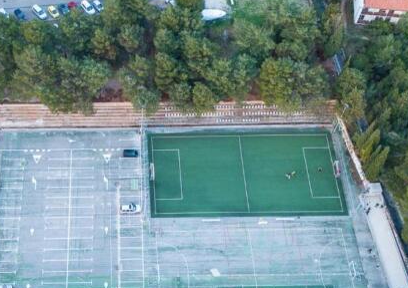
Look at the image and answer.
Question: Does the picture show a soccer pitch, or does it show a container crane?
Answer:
soccer pitch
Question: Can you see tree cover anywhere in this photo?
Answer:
Yes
